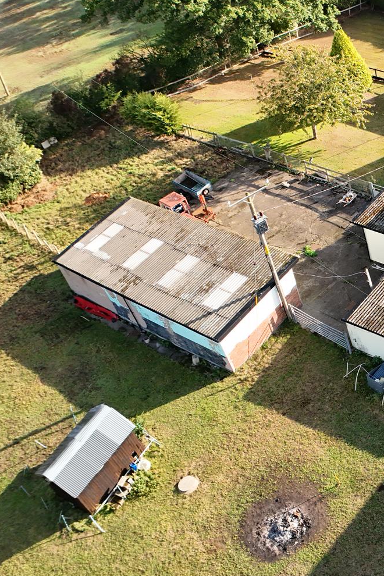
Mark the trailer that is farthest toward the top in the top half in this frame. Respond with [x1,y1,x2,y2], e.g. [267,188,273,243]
[170,172,217,204]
